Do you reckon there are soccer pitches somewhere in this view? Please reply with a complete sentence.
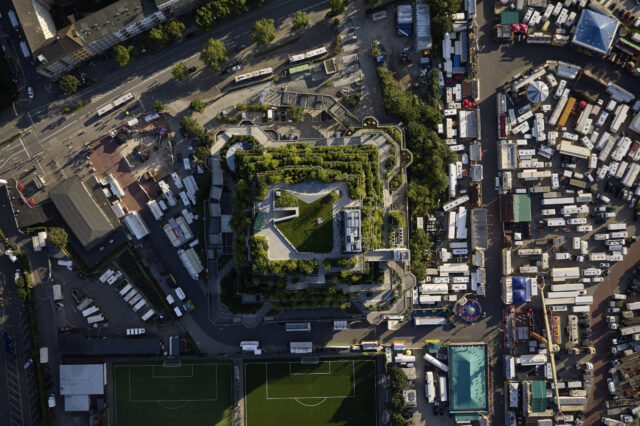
Yes, there's a soccer pitch down there.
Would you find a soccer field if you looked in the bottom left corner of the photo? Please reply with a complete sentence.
Yes, in the bottom left corner of the photo there is a soccer field.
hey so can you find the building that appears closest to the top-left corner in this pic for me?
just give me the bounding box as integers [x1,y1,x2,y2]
[12,0,59,51]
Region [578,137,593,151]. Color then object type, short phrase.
white camper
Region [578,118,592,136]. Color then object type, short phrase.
white camper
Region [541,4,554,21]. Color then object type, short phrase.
white vehicle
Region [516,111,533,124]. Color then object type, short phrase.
white vehicle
